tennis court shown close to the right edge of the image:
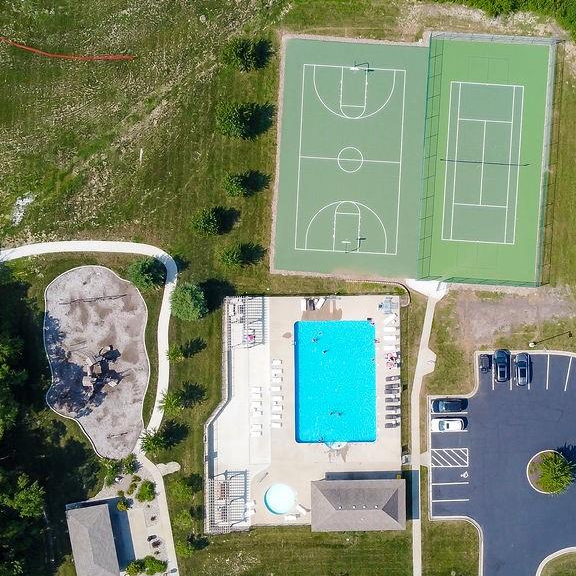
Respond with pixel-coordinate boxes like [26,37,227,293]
[419,39,552,284]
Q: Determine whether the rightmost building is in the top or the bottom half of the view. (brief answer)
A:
bottom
